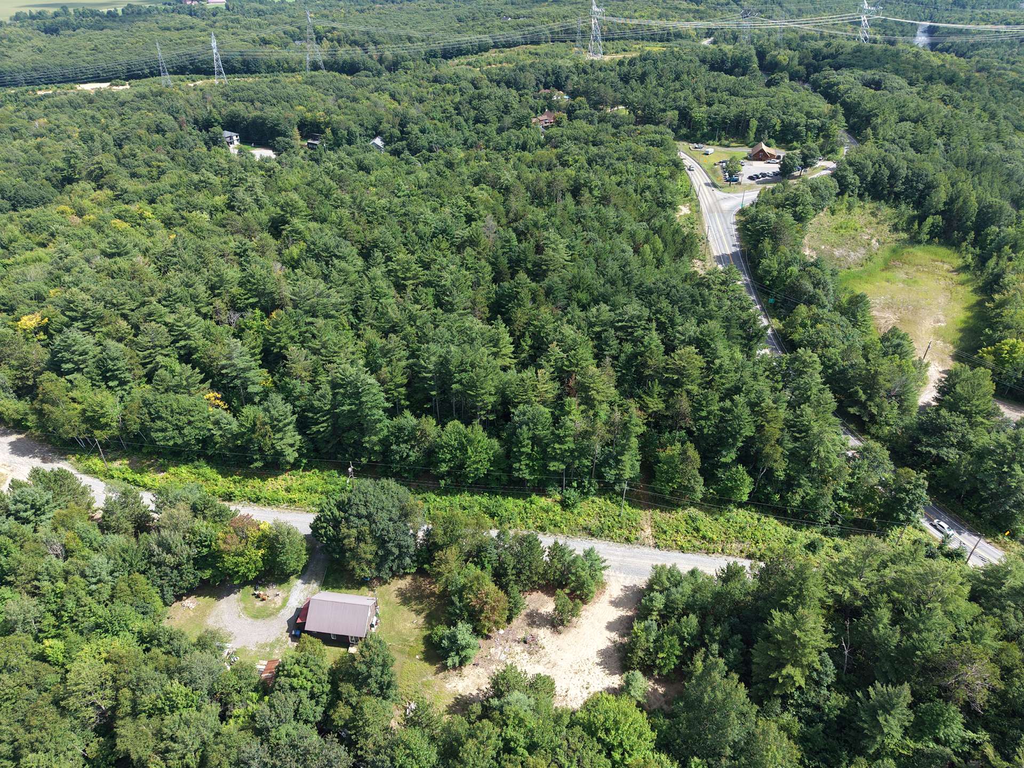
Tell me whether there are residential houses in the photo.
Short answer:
Yes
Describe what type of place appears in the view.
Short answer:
forest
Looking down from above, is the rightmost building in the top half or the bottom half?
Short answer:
top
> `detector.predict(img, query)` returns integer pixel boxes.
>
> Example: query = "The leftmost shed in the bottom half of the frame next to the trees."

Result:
[254,656,285,693]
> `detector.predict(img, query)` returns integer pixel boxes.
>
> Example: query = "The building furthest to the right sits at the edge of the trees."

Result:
[742,134,790,159]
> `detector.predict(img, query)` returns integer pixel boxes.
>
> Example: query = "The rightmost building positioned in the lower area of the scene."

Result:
[294,592,379,661]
